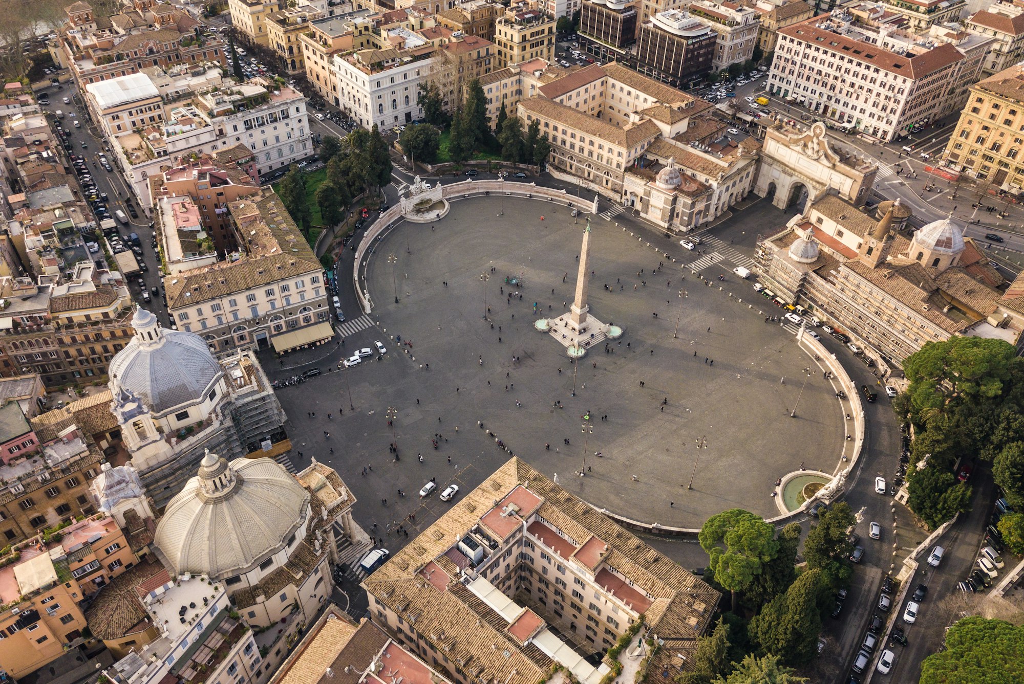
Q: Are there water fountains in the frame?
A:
Yes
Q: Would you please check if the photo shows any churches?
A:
Yes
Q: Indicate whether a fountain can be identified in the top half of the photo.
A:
Yes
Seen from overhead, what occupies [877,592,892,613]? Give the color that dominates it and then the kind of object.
gray car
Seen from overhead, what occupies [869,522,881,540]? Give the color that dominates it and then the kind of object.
gray vehicle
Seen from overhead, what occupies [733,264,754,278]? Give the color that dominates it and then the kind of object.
white vehicle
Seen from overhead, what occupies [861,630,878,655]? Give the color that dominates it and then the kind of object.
gray car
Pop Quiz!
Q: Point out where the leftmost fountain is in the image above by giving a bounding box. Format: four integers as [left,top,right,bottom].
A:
[393,175,447,219]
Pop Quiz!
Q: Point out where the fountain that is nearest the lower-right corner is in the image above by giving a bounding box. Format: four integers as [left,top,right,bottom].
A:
[776,464,858,523]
